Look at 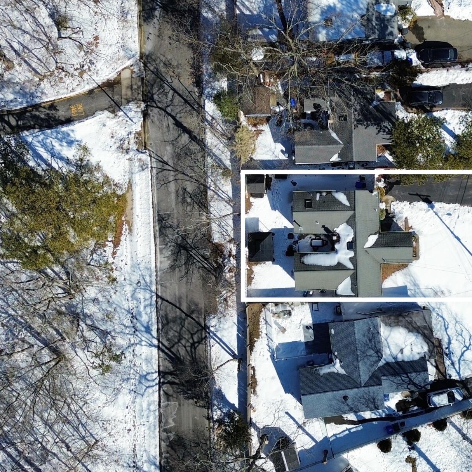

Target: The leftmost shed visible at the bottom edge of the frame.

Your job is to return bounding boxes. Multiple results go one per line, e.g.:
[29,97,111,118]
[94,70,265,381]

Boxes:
[272,440,300,472]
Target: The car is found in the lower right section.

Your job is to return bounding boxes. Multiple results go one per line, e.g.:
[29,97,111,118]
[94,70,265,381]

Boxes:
[424,387,465,407]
